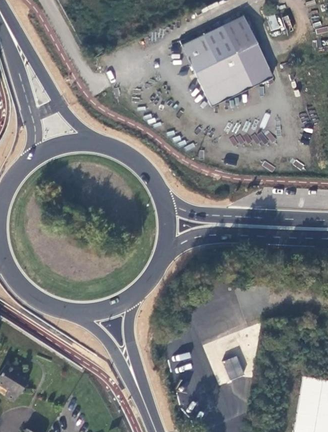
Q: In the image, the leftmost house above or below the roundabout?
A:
below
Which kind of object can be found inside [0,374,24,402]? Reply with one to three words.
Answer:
house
